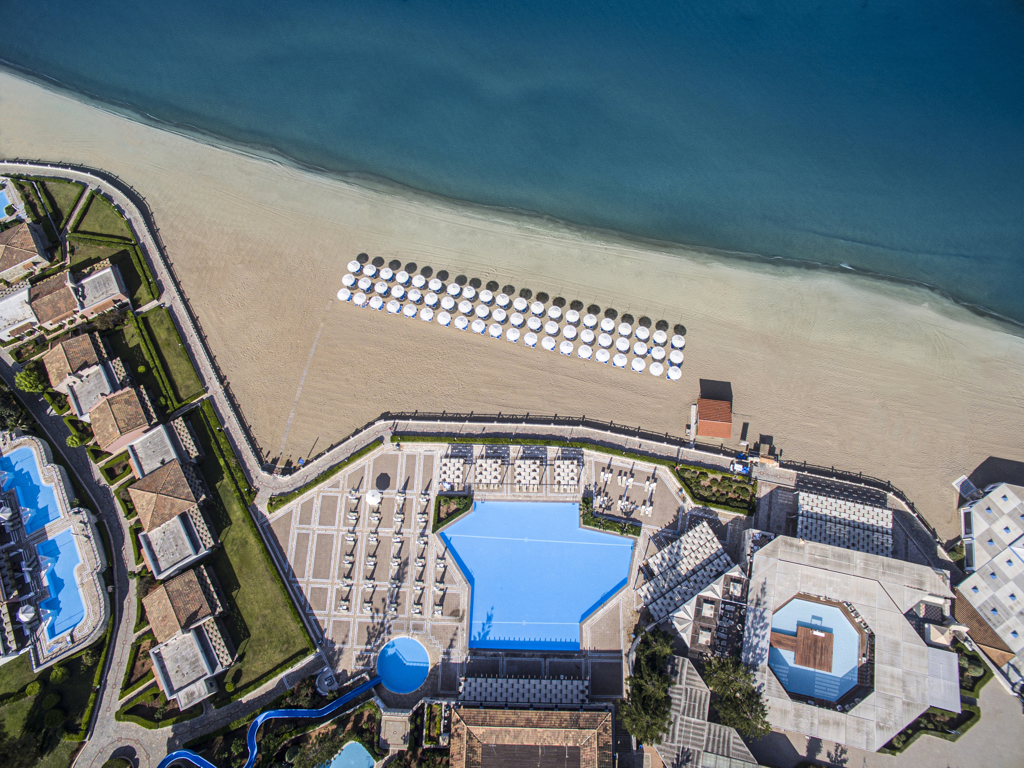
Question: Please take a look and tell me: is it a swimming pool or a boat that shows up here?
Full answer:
Of the two, only a swimming pool appears.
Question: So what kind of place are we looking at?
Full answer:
It's a beach.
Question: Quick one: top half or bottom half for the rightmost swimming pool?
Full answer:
You can find the rightmost swimming pool in the bottom half.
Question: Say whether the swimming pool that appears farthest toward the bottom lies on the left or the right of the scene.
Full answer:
The swimming pool that appears farthest toward the bottom appears in the left half of the scene.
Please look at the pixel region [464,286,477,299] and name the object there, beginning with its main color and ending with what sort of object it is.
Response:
white umbrella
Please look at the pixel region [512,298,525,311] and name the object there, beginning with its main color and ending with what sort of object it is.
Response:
white umbrella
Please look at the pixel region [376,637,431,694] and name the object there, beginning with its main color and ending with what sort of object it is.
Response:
blue swimming pool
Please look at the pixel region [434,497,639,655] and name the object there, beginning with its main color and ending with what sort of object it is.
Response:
blue swimming pool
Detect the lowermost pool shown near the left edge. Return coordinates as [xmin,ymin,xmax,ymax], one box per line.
[34,525,87,644]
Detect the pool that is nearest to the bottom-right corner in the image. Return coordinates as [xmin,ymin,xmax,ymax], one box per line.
[768,599,858,703]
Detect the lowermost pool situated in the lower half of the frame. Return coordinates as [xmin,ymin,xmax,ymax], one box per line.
[327,738,378,768]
